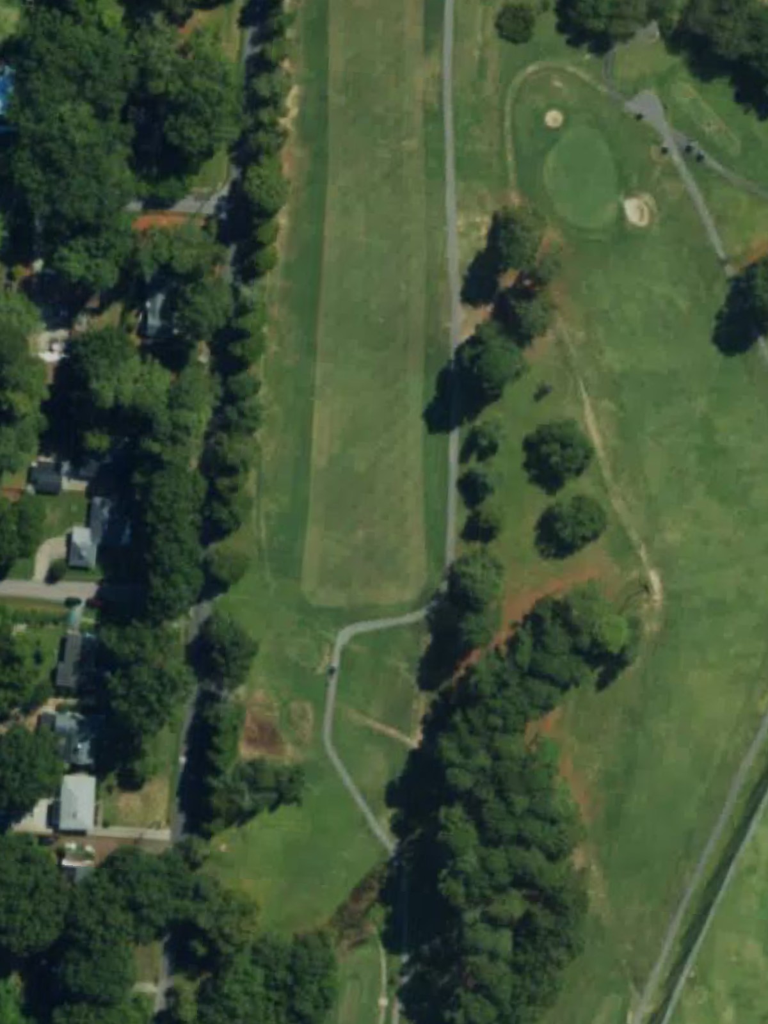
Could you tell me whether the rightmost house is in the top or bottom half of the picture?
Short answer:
top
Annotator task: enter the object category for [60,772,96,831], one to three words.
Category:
house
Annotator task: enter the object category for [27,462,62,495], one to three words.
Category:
house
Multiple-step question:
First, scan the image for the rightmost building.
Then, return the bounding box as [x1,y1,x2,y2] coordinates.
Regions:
[146,292,169,337]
